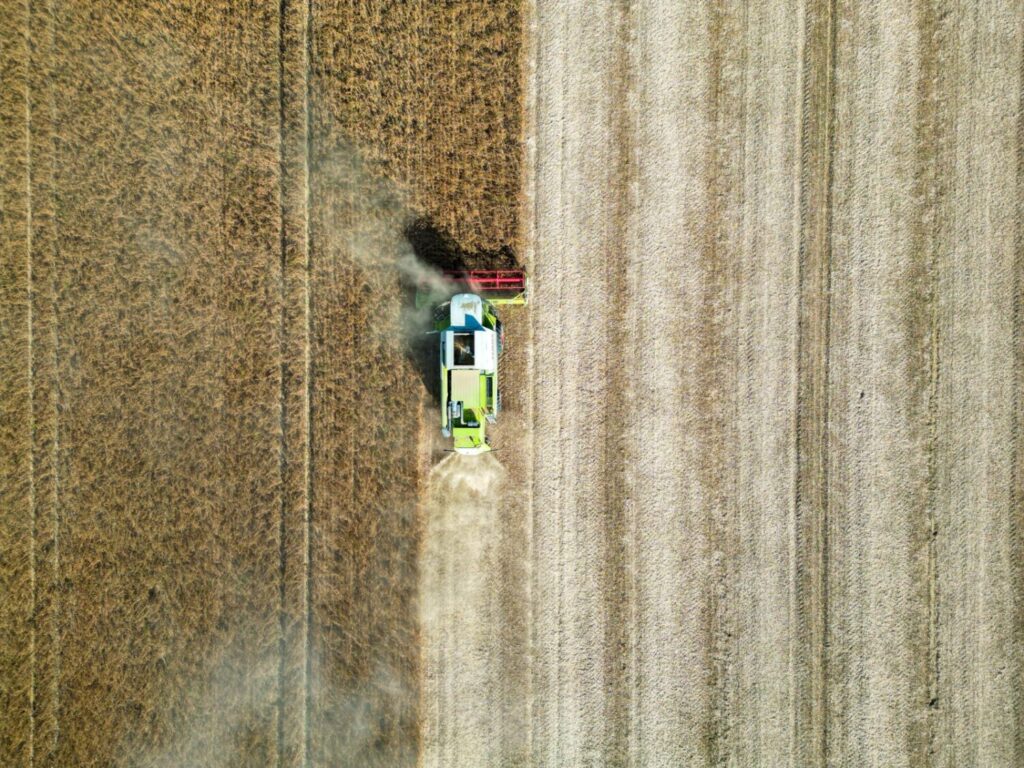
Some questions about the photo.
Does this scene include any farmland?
Yes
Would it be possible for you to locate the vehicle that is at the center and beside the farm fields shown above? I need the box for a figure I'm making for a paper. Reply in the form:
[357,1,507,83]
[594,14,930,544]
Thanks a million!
[415,264,528,457]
